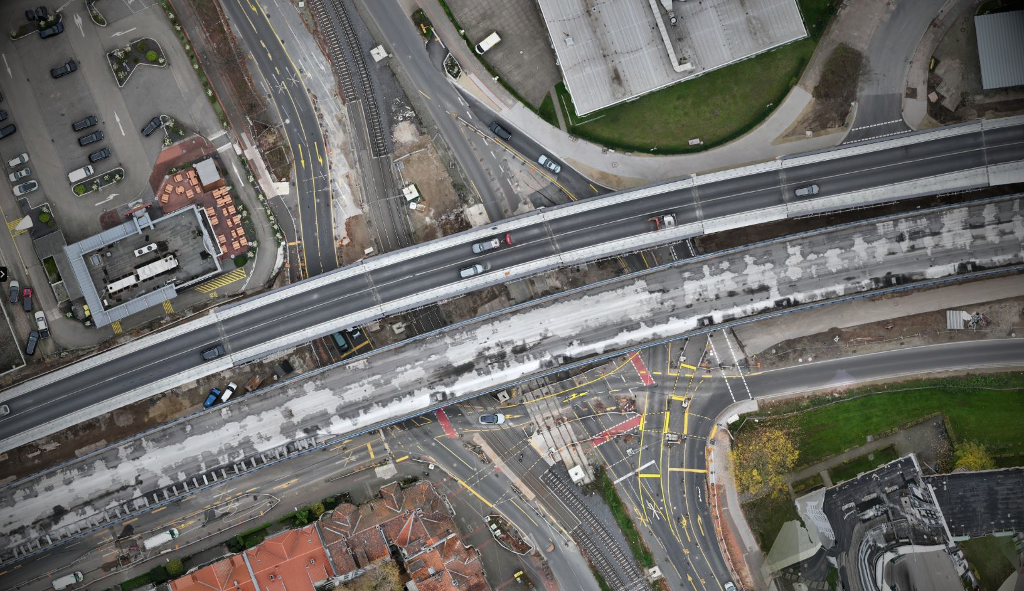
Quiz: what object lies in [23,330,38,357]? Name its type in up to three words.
car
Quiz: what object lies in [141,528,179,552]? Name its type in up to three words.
vehicle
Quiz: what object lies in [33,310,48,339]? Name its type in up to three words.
vehicle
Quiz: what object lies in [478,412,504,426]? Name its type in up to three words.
car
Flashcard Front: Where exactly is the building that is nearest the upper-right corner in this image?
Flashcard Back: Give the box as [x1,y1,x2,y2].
[967,7,1024,93]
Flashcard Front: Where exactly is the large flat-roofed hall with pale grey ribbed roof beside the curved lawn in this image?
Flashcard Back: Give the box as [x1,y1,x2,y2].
[536,0,807,119]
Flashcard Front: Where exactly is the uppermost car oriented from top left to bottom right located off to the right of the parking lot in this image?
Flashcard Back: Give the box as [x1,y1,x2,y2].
[487,118,513,141]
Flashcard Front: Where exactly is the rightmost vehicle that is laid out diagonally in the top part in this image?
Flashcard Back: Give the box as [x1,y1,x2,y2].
[536,152,562,175]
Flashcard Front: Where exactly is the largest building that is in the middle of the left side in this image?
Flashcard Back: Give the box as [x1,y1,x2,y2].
[65,200,223,327]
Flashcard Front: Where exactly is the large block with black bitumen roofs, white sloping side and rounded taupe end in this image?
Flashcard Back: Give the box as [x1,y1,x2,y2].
[796,449,1024,591]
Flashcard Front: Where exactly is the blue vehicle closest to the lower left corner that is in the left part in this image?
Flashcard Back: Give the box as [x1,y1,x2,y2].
[202,384,221,409]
